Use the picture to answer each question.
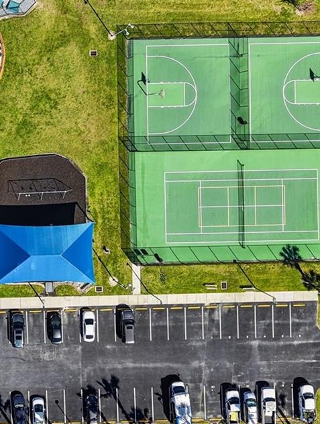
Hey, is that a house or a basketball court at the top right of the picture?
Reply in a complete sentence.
There is a basketball court at the top right of the picture.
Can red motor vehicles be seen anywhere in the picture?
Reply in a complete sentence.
No, no red motor vehicle is visible in the scene.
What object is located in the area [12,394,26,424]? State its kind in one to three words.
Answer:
car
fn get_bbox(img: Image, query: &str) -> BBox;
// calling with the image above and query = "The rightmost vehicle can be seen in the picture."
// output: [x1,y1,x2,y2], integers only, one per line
[297,383,316,424]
